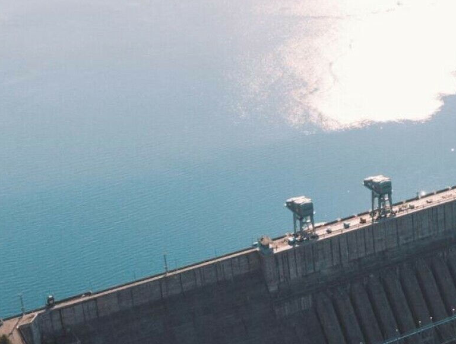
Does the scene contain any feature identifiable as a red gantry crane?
No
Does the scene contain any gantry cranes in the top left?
No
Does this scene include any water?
Yes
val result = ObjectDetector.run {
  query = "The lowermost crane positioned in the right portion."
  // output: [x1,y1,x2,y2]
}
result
[280,199,316,244]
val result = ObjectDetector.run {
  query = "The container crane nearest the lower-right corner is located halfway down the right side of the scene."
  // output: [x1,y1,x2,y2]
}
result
[360,176,393,221]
